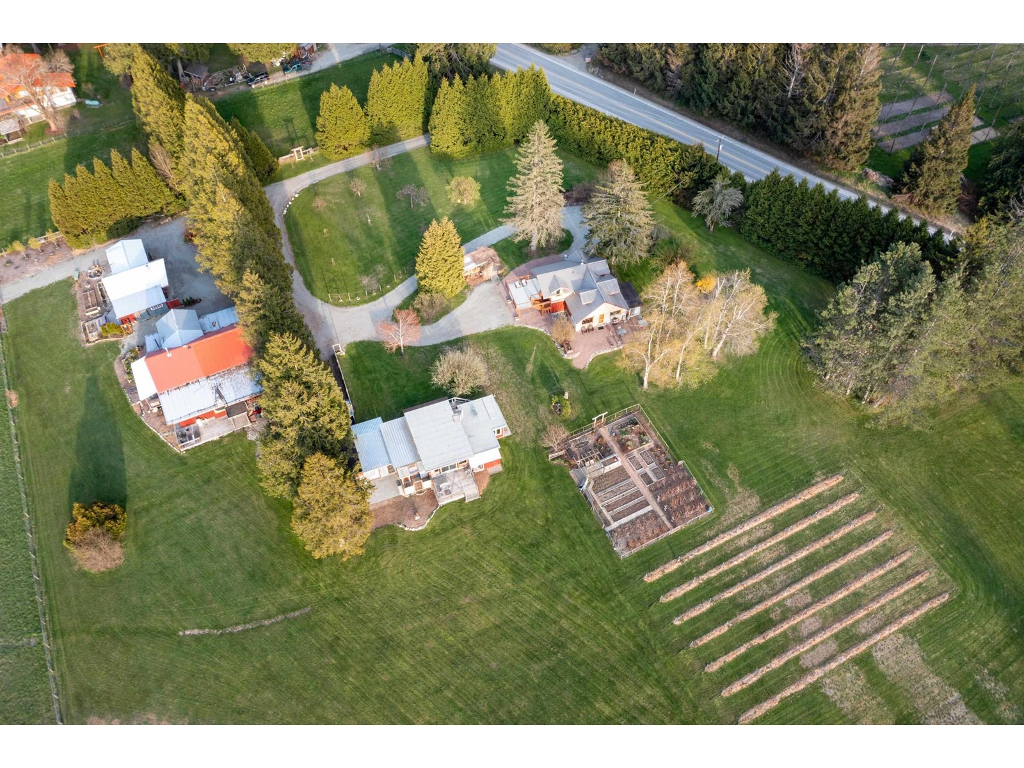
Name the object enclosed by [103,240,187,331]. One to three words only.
shed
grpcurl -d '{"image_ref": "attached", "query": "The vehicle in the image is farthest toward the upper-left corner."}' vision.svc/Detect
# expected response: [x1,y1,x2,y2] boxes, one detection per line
[244,69,271,85]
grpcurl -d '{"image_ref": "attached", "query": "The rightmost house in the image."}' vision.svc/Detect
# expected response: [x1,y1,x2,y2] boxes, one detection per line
[506,249,642,330]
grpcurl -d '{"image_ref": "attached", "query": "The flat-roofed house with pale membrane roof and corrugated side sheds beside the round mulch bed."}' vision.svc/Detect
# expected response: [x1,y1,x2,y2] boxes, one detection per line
[353,395,513,510]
